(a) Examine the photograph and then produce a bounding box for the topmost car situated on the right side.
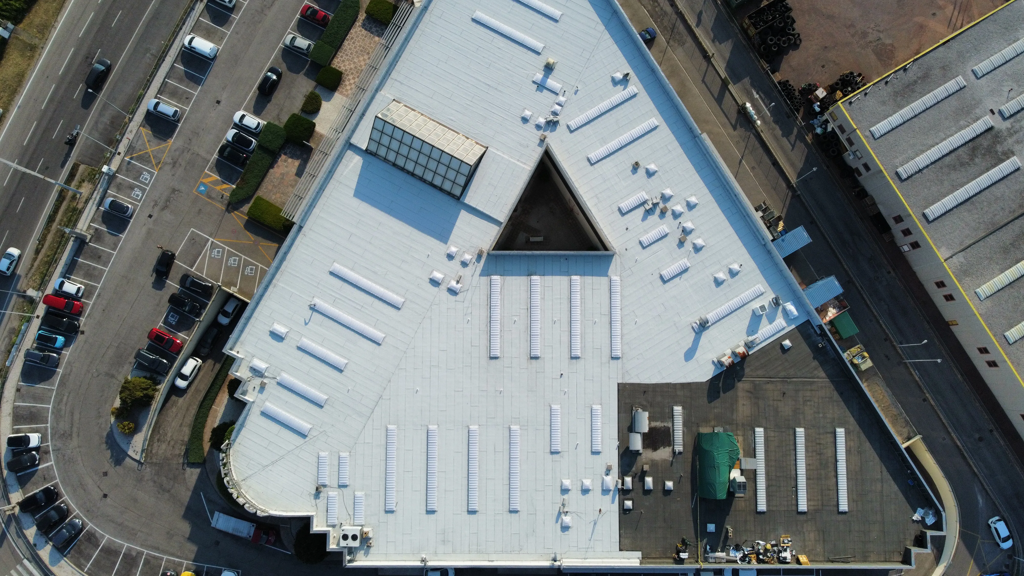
[637,23,661,45]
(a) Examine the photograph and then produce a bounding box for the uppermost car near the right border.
[986,515,1014,549]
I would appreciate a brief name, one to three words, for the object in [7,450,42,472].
car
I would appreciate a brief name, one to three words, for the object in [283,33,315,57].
car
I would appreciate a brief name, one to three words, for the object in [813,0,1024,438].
warehouse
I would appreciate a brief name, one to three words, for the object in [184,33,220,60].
vehicle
